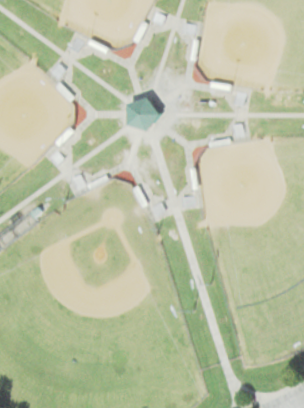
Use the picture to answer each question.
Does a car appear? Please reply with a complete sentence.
No, I find no car anywhere in the image.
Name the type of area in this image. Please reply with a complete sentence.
This image shows a sports ground.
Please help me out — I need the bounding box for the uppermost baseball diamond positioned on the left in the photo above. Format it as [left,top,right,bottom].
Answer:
[28,0,155,50]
